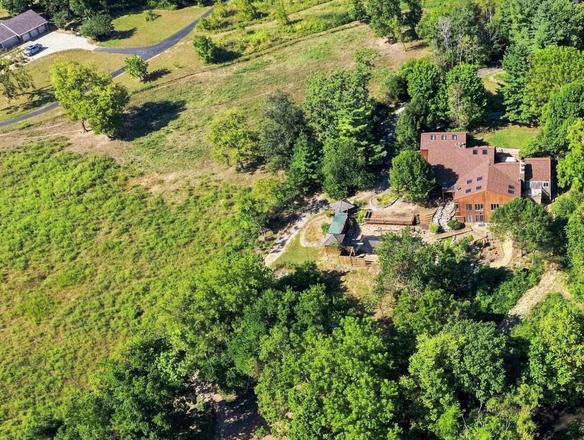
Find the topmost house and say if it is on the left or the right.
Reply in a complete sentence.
The topmost house sits on the left side.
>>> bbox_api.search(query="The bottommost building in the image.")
[318,236,345,261]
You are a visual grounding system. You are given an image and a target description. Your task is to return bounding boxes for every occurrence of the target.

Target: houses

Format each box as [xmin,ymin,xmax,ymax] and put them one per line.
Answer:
[0,11,53,53]
[419,132,552,225]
